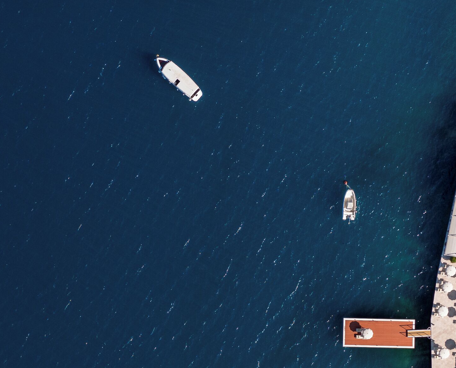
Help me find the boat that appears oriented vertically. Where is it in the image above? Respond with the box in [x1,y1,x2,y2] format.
[343,189,356,221]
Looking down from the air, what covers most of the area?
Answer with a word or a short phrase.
water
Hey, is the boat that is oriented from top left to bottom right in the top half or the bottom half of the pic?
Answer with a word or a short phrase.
top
